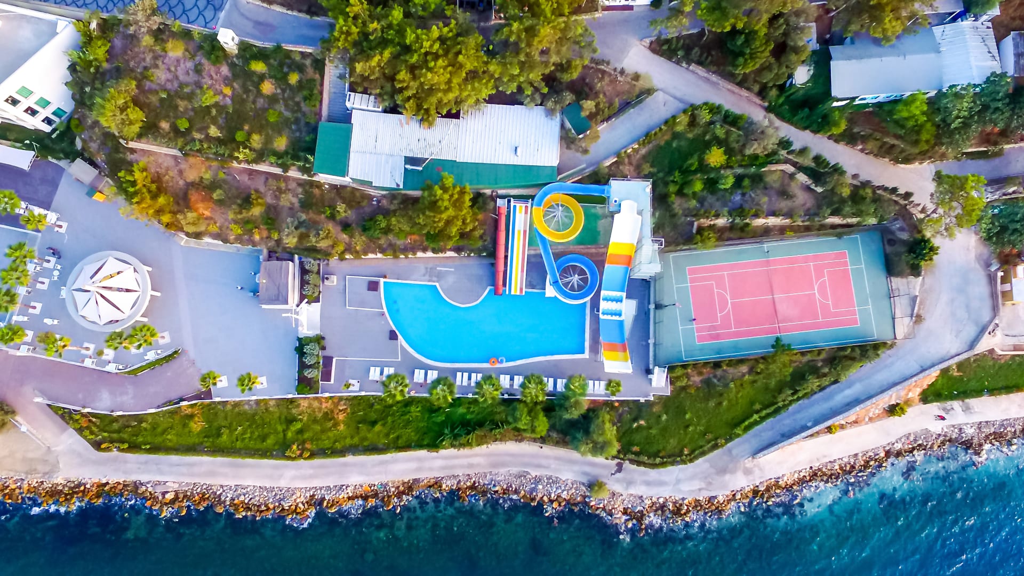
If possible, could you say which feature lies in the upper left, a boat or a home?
home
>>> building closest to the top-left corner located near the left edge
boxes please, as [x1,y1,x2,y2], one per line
[0,3,101,135]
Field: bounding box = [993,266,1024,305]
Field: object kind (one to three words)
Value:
house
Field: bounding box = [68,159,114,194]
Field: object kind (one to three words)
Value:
shed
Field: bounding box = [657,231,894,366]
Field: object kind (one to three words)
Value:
sports court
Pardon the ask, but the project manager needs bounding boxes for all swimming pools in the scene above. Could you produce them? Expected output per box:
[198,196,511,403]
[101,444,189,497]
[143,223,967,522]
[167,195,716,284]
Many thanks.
[378,277,593,370]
